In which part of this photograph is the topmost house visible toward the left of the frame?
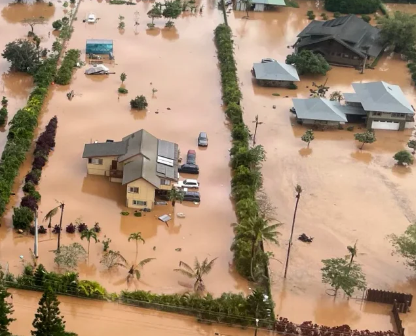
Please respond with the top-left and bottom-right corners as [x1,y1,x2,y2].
[83,129,179,207]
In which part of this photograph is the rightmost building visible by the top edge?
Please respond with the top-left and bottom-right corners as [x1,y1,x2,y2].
[295,10,387,68]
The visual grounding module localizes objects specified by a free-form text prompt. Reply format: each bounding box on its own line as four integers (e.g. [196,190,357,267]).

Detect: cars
[154,192,175,201]
[285,108,296,117]
[177,163,200,174]
[177,192,202,202]
[178,179,200,189]
[186,150,196,162]
[197,132,206,145]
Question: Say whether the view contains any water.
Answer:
Yes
